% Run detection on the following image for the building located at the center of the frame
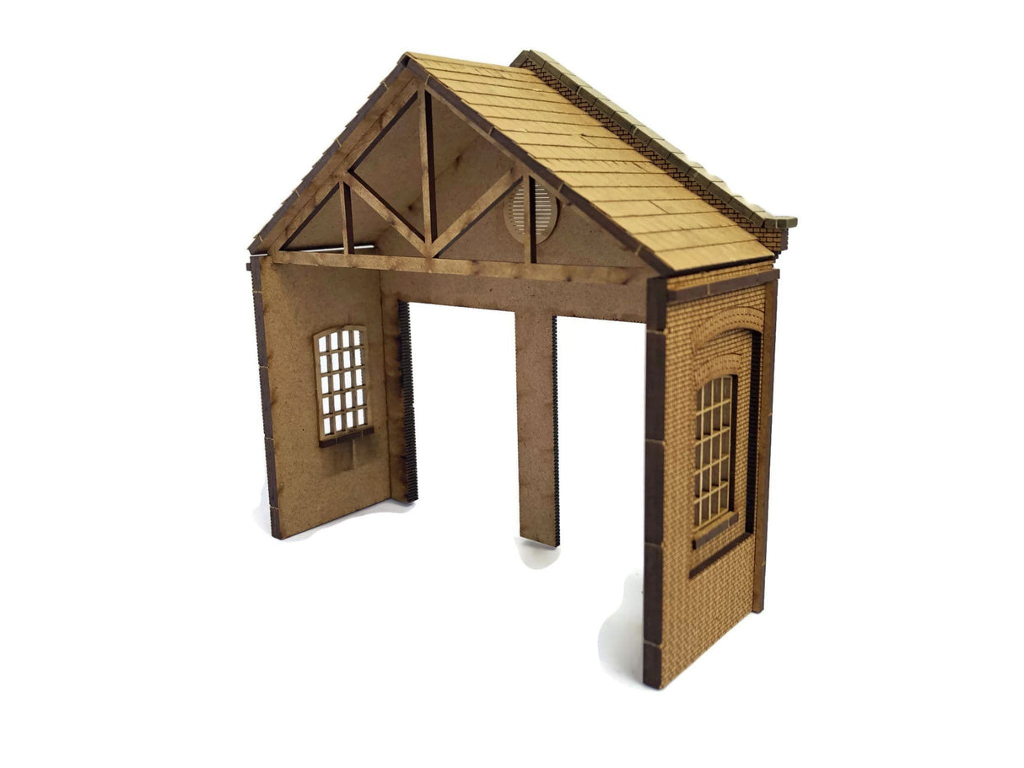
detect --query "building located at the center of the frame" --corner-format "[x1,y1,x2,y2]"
[247,51,797,690]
